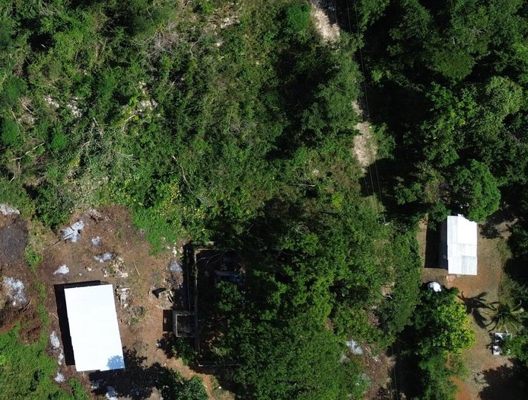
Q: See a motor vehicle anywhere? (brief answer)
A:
No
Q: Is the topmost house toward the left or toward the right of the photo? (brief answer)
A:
right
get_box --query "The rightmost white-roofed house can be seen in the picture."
[439,215,478,275]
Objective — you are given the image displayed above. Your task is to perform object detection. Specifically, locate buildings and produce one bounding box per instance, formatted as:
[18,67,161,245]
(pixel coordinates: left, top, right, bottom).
[65,282,125,371]
[439,215,478,275]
